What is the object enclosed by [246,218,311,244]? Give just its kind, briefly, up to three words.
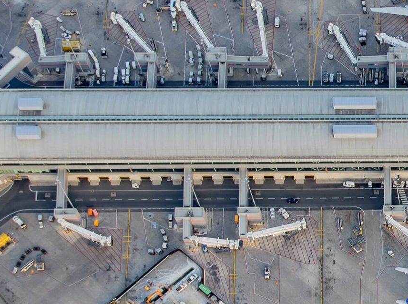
jet bridge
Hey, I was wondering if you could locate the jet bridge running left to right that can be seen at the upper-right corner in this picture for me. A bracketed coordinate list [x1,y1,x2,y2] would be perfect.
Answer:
[375,32,408,46]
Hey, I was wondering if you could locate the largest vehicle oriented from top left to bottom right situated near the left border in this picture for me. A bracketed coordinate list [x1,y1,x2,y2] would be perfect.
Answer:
[12,216,27,229]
